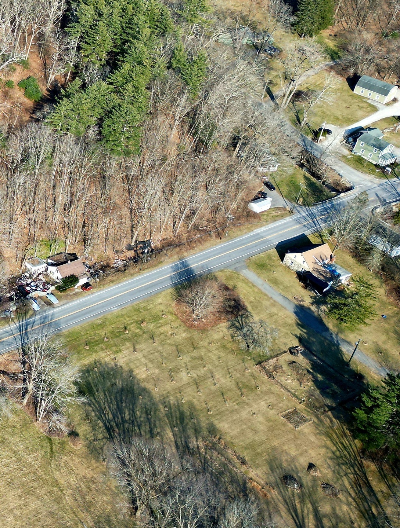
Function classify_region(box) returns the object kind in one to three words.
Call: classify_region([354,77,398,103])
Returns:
barn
